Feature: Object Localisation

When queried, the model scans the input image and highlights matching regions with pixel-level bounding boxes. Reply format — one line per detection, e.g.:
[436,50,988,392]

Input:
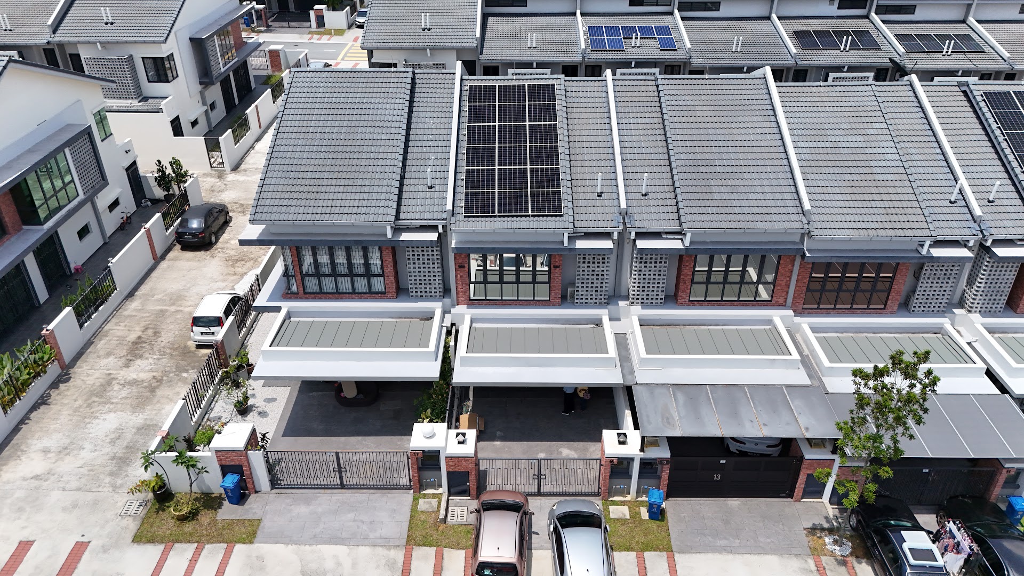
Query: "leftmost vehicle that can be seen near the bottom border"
[470,488,533,576]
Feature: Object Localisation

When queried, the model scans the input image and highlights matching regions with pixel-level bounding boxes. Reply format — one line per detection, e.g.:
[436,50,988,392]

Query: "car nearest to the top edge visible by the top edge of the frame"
[356,6,369,25]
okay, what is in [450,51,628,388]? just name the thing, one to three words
house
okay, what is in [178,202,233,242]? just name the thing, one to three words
car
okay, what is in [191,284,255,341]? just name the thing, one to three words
car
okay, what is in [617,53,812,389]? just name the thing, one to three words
house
